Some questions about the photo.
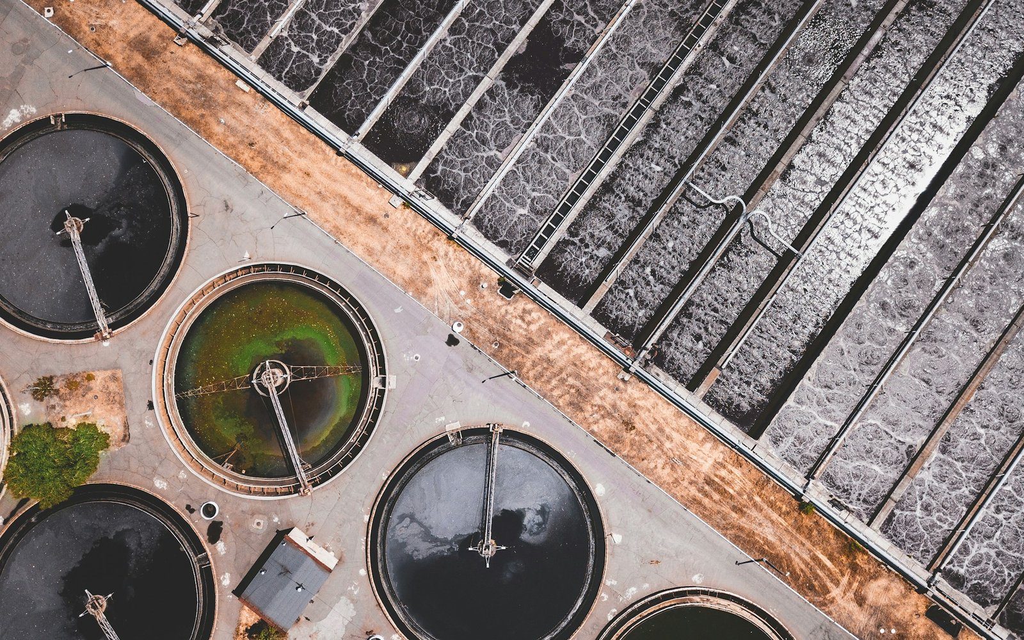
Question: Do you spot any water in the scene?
Yes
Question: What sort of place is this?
industrial area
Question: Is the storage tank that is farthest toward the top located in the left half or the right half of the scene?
left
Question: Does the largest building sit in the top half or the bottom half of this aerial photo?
bottom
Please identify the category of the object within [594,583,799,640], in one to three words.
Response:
storage tank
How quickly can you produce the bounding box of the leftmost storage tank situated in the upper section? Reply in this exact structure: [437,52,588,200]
[0,110,191,344]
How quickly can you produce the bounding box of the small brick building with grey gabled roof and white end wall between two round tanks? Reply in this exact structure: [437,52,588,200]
[238,528,338,633]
